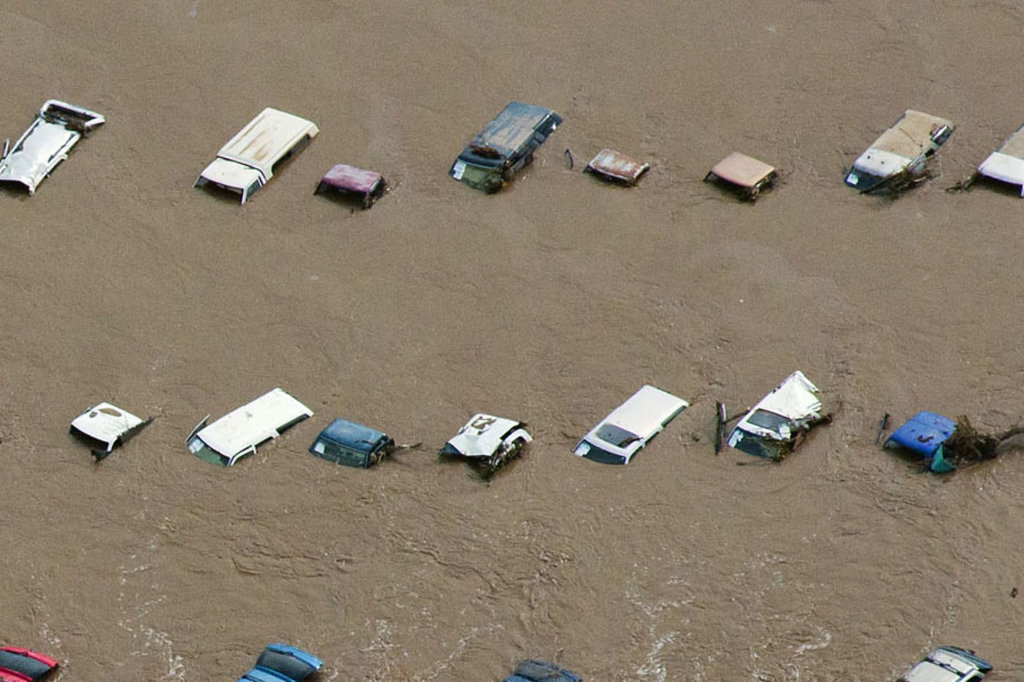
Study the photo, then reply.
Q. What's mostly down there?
water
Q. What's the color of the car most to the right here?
white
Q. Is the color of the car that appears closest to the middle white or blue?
white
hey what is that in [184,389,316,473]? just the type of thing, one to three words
vehicle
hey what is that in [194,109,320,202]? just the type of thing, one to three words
truck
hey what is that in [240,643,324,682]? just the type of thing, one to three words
car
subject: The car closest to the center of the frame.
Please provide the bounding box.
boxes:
[442,413,531,465]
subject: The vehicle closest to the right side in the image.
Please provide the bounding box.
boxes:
[975,120,1024,197]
